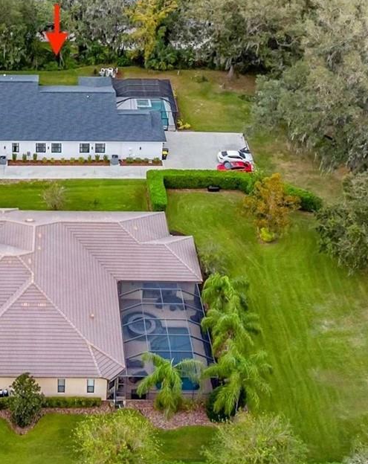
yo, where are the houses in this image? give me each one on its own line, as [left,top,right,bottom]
[0,74,165,165]
[0,204,203,396]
